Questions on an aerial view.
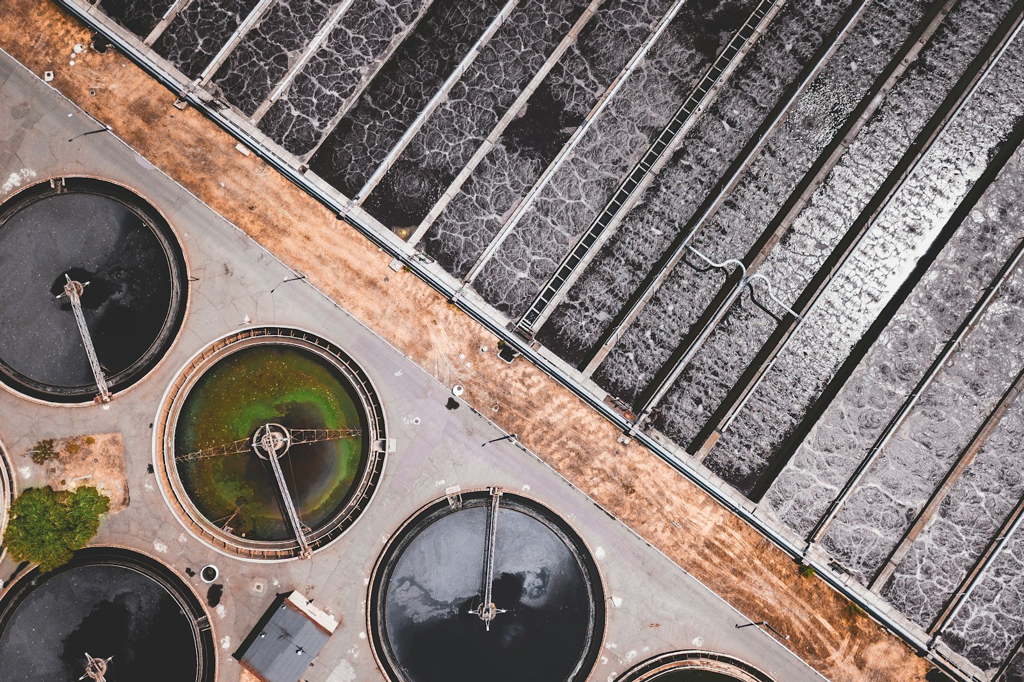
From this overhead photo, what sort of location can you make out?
industrial area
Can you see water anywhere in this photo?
Yes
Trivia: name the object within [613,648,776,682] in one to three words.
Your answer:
storage tank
